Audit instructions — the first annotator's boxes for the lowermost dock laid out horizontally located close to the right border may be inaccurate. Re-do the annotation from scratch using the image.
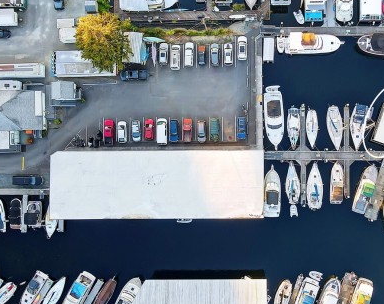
[263,143,384,167]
